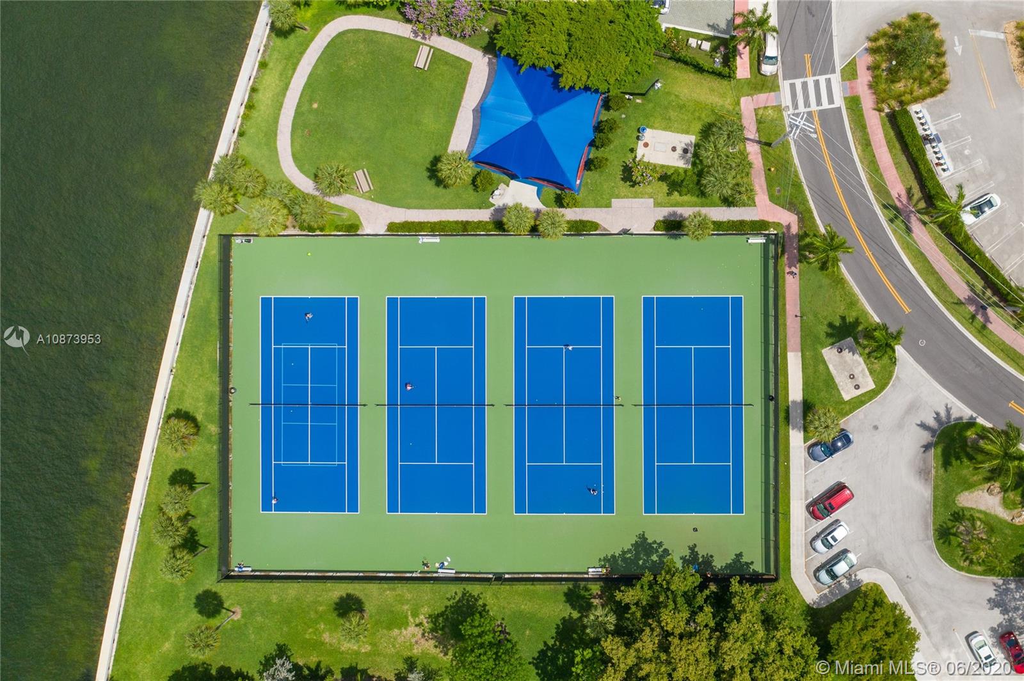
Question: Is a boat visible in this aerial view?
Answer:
No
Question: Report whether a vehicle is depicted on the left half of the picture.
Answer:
No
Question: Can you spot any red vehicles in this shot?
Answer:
Yes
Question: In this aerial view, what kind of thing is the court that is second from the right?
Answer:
tennis court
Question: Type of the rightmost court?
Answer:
tennis court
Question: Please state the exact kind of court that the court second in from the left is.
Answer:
tennis court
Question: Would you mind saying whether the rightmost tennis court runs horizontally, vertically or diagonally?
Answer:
vertically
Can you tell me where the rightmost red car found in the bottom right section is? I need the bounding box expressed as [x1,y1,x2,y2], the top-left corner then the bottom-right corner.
[997,633,1024,680]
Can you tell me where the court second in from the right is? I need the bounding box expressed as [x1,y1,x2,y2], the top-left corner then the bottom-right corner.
[514,296,615,515]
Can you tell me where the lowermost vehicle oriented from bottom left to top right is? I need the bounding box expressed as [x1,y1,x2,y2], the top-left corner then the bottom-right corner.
[813,553,860,588]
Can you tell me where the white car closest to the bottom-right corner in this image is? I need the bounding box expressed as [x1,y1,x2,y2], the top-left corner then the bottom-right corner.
[967,634,1000,680]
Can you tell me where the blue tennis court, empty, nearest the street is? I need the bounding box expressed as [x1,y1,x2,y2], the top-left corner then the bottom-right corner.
[642,296,744,515]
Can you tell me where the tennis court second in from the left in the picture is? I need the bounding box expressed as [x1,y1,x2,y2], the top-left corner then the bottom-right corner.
[386,296,487,514]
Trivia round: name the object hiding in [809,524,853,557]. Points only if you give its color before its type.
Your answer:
white car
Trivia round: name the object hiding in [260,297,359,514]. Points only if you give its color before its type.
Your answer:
blue tennis court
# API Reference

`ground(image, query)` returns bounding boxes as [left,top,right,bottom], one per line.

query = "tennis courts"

[514,296,615,515]
[386,296,487,514]
[260,297,359,514]
[642,296,744,515]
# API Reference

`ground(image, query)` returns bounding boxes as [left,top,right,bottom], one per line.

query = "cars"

[997,633,1024,680]
[813,553,860,588]
[807,432,855,464]
[758,27,781,77]
[962,191,1006,223]
[967,634,1000,680]
[807,486,857,522]
[809,524,853,557]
